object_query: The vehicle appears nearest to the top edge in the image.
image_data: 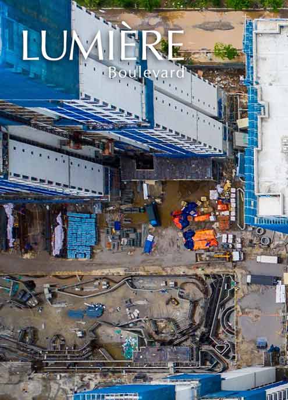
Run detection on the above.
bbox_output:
[141,199,158,226]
